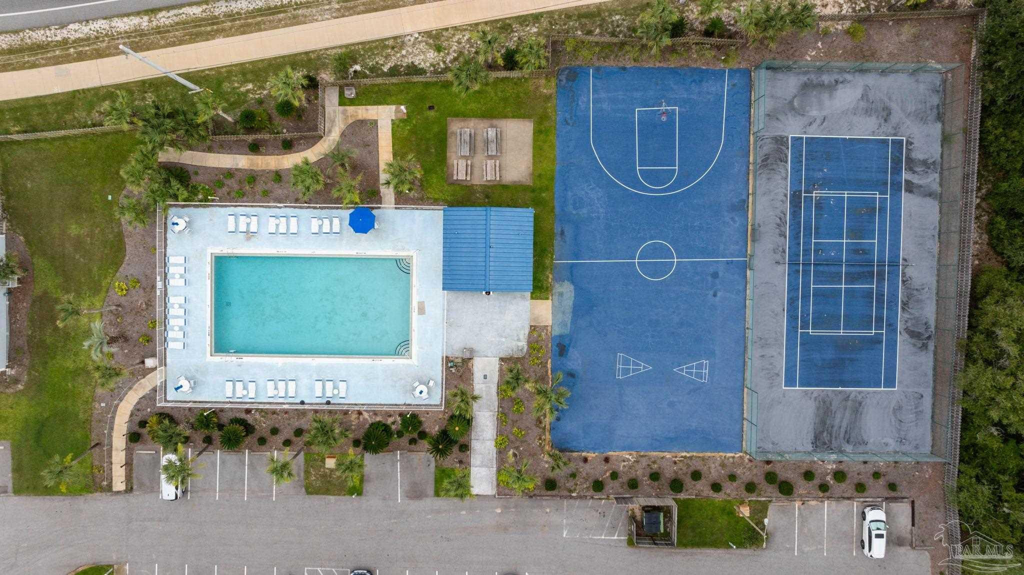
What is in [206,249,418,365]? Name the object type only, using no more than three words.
swimming pool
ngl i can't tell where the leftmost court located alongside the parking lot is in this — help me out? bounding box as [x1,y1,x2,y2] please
[550,66,751,453]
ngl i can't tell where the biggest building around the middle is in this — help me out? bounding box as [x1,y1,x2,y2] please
[441,208,535,296]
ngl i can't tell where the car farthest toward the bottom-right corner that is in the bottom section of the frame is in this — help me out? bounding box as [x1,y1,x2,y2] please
[859,507,889,559]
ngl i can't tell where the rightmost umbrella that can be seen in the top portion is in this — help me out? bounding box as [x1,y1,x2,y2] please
[348,207,375,234]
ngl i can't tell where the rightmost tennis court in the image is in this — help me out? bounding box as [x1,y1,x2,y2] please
[745,69,944,454]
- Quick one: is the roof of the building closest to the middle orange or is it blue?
blue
